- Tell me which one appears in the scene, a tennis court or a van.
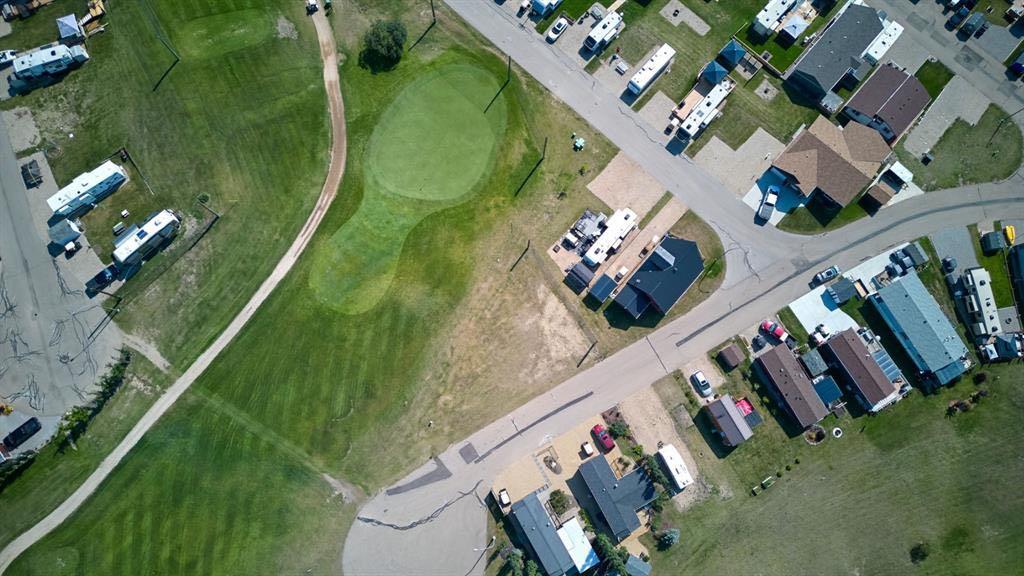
van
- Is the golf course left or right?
left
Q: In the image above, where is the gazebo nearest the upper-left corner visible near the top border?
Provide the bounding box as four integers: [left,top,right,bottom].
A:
[57,14,88,44]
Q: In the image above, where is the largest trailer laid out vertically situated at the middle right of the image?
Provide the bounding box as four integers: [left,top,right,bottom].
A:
[957,267,1002,343]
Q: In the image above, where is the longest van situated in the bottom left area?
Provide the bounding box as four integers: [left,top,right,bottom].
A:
[3,417,43,449]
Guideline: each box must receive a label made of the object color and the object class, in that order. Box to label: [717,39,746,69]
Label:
blue gazebo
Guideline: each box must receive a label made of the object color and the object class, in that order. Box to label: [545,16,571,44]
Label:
white car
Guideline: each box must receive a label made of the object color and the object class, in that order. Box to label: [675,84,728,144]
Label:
white camper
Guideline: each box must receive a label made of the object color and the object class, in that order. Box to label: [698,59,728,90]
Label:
blue gazebo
